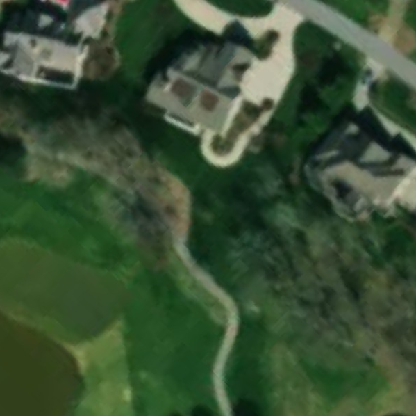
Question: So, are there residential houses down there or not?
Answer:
Yes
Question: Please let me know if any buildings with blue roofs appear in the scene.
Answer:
No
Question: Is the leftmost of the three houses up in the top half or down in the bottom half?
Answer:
top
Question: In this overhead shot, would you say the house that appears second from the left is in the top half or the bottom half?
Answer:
top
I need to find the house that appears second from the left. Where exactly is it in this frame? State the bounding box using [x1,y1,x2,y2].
[141,23,266,135]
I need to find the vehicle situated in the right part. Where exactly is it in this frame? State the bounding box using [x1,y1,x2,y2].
[360,70,373,87]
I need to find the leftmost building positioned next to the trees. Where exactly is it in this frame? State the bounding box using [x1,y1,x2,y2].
[0,0,118,87]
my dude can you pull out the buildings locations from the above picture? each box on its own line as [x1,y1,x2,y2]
[0,0,118,87]
[141,23,266,135]
[306,111,416,212]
